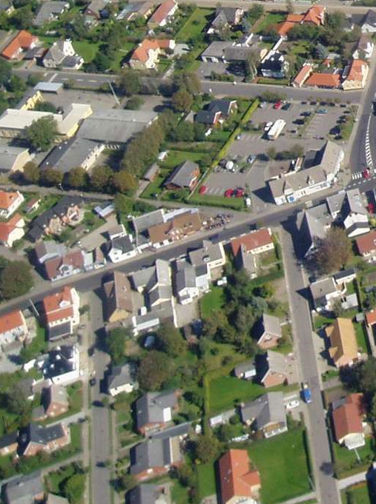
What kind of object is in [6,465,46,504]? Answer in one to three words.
house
